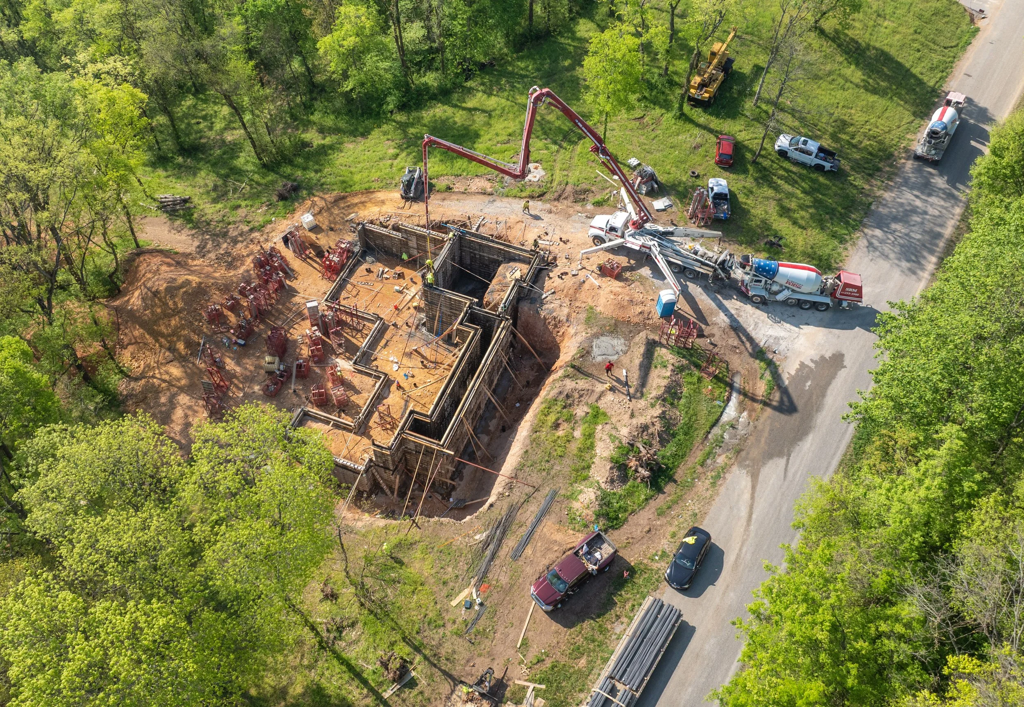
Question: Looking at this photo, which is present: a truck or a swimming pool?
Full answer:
It is a truck that can be seen here.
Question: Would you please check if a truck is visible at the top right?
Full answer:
Yes, there is a truck at the top right.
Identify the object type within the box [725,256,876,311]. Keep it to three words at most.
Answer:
truck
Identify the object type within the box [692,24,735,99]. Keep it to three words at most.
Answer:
crane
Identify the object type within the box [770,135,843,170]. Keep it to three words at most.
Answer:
truck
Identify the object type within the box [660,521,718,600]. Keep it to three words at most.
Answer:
car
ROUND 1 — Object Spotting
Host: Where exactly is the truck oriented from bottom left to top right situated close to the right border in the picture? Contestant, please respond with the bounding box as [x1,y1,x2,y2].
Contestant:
[918,87,977,158]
